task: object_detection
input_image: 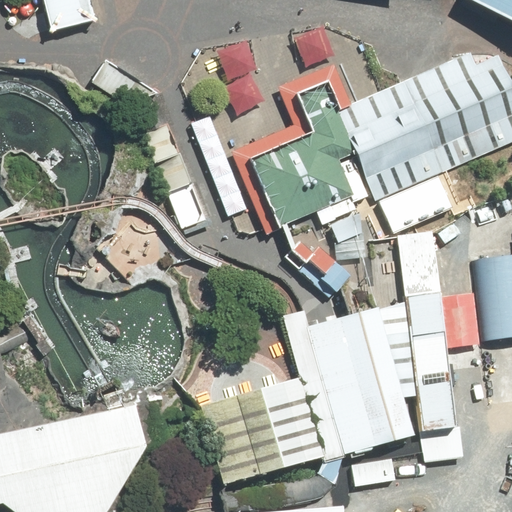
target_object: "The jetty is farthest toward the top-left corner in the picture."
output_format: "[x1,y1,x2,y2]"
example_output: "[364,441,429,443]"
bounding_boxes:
[31,148,64,181]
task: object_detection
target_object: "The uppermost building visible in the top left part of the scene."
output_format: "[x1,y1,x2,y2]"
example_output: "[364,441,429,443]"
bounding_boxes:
[43,0,94,32]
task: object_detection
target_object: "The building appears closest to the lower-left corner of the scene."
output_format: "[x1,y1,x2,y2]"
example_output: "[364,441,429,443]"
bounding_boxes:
[0,403,147,512]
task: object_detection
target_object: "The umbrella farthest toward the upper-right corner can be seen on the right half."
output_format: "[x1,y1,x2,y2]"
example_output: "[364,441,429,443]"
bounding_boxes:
[295,26,334,68]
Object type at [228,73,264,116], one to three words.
umbrella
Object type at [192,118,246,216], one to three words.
tent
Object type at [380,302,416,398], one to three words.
building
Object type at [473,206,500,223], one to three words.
vehicle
